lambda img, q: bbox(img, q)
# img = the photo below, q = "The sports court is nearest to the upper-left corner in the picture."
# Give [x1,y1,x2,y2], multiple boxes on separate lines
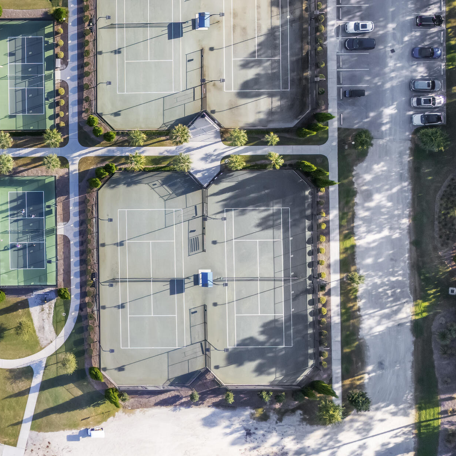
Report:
[0,19,55,130]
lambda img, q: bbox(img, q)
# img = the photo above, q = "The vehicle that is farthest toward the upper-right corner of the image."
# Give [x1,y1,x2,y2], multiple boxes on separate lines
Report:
[414,13,443,27]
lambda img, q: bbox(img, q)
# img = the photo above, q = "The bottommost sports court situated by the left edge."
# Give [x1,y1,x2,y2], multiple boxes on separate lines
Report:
[0,176,57,286]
